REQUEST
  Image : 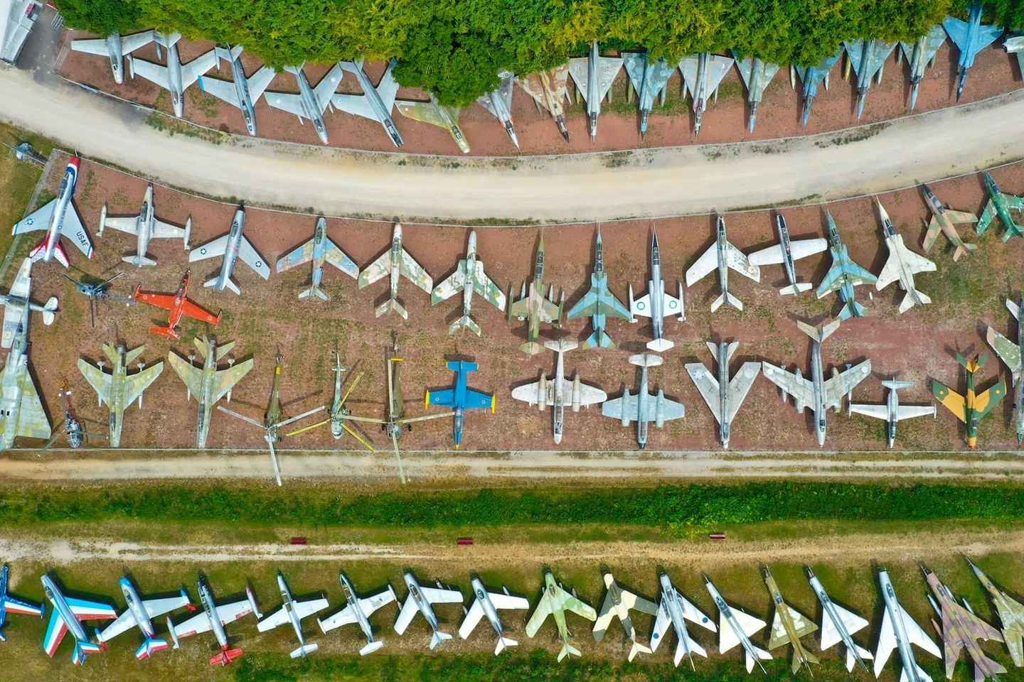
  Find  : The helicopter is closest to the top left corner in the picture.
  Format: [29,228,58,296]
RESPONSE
[2,142,50,168]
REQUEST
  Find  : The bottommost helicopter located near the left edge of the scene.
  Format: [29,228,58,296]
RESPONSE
[45,374,97,450]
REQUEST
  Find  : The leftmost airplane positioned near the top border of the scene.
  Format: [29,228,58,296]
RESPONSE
[70,28,161,85]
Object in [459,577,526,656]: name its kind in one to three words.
airplane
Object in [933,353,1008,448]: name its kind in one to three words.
airplane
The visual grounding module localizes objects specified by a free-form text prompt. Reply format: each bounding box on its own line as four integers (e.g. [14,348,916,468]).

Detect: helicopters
[45,374,97,450]
[341,343,455,483]
[220,352,326,485]
[288,348,377,451]
[2,142,50,168]
[65,273,133,327]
